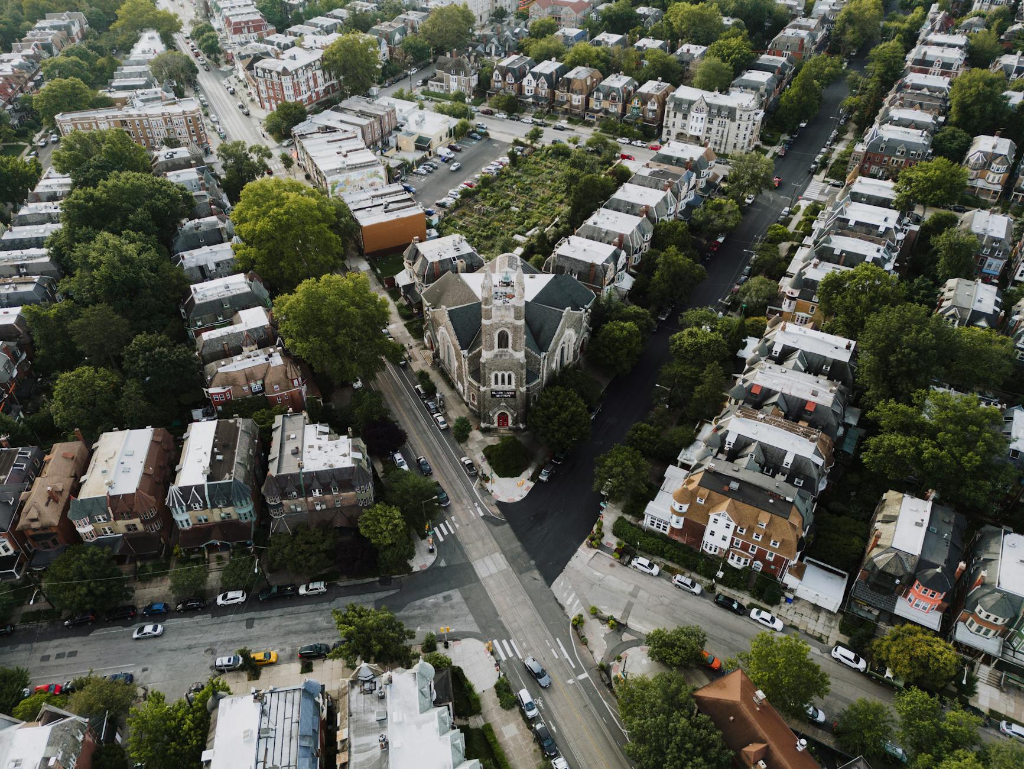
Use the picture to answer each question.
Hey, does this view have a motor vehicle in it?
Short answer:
Yes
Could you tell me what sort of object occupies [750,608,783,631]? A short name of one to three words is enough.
car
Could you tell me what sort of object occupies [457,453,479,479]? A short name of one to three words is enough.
truck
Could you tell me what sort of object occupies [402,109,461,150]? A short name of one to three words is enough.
building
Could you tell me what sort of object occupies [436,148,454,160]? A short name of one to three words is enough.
vehicle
